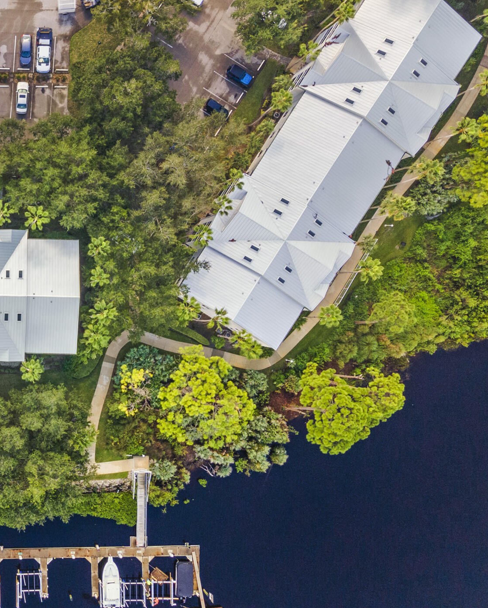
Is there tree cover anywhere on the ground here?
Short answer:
Yes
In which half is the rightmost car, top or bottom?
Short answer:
top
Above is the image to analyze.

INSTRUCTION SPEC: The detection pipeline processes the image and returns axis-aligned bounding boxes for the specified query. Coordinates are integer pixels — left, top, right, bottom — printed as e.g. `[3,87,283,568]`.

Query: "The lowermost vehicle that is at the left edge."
[15,82,30,115]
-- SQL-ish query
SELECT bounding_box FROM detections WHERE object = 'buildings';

[179,0,475,348]
[0,228,82,361]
